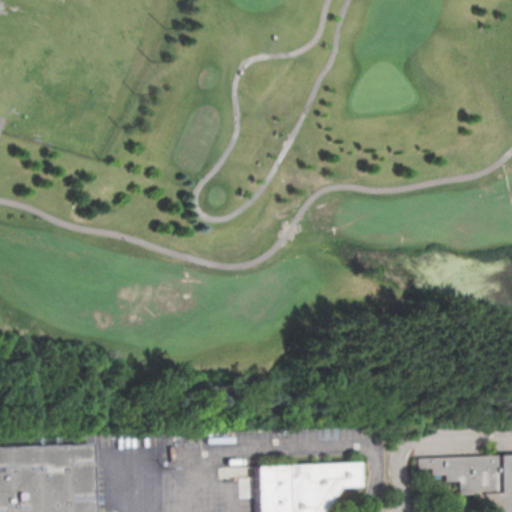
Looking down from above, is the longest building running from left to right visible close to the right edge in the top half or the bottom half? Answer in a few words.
bottom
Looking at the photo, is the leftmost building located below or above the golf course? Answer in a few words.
below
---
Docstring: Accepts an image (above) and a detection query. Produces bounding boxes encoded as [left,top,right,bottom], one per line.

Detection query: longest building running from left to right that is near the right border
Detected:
[414,455,500,494]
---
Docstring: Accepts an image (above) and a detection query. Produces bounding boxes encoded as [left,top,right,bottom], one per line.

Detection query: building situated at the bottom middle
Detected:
[253,462,366,512]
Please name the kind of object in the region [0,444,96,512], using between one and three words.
building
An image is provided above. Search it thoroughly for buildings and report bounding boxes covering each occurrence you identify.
[253,462,366,512]
[0,444,96,512]
[414,455,500,494]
